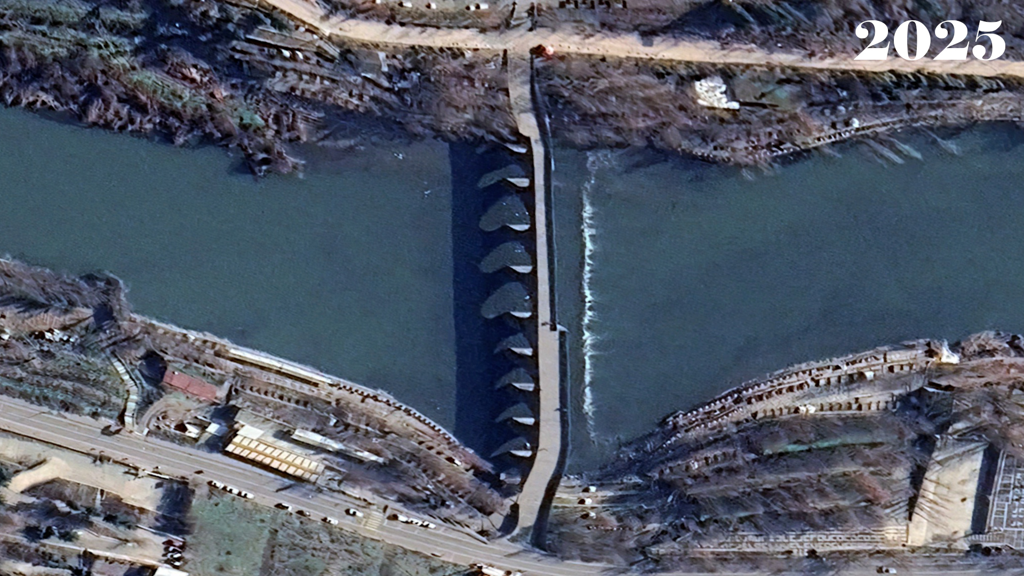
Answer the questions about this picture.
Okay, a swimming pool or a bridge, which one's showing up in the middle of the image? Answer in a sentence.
Looking in the middle of the image, you will find a bridge.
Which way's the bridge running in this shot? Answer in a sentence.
The bridge has been laid out from top to bottom relative to the frame.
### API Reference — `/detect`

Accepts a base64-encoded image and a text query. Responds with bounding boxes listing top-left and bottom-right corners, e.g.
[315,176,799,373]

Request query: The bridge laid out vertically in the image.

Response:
[506,52,571,540]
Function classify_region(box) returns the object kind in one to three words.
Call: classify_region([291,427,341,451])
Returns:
shed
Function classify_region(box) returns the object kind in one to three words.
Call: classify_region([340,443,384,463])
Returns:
shed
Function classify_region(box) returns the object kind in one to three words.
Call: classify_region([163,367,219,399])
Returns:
house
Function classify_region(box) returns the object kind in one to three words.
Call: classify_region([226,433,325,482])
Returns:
building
